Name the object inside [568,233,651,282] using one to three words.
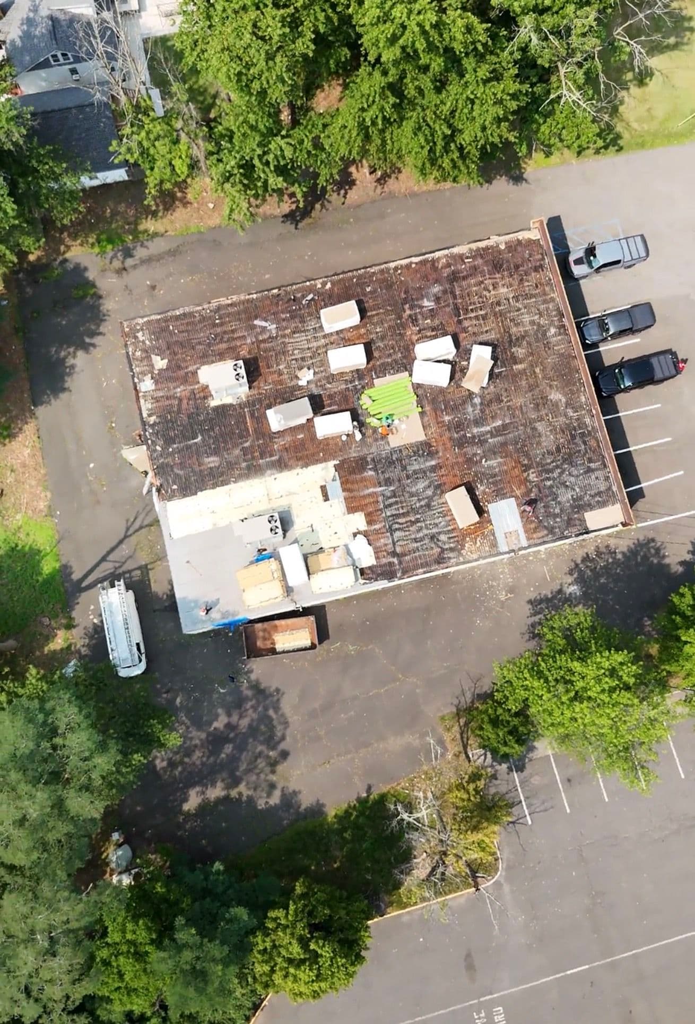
truck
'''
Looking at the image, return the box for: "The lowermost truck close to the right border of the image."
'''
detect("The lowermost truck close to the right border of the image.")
[592,348,684,400]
